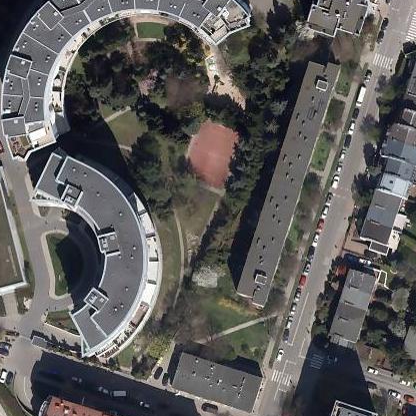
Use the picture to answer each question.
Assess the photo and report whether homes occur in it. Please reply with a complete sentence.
Yes, looking at the shot, I can spot a home.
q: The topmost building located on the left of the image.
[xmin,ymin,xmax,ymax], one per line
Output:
[1,0,259,162]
